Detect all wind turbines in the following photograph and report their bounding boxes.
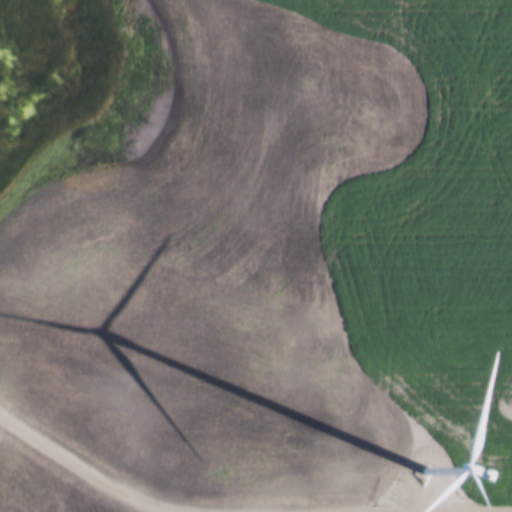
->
[422,353,499,512]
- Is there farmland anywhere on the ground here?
Yes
